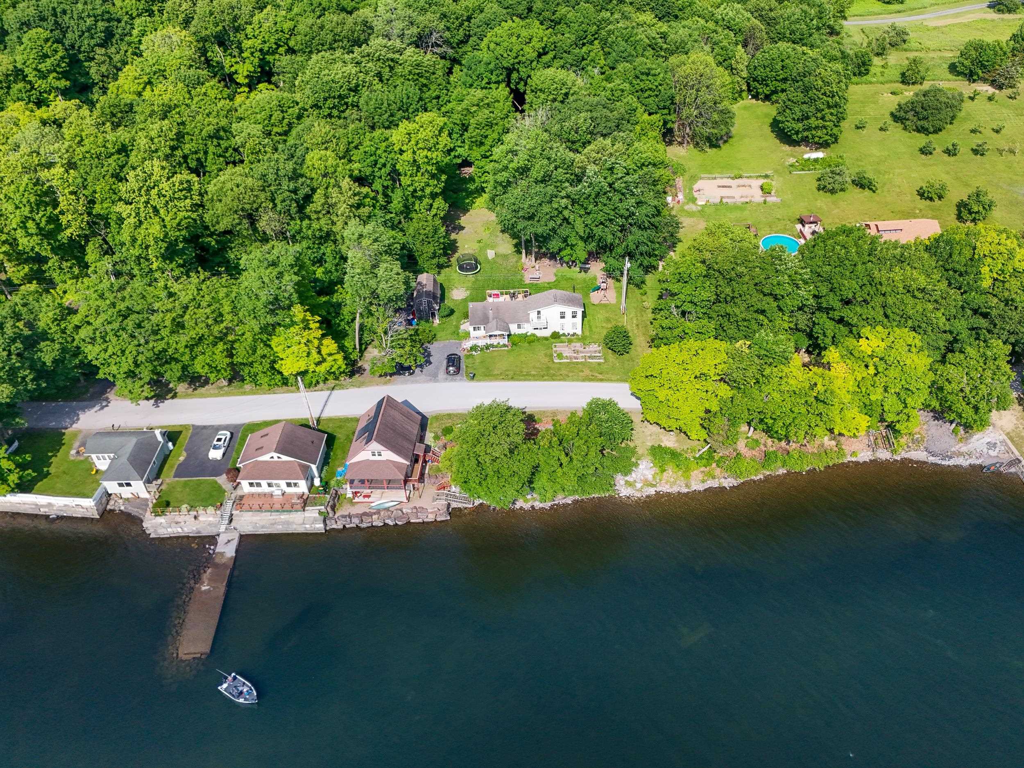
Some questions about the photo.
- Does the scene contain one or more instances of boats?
Yes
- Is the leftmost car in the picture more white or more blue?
white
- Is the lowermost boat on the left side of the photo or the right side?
left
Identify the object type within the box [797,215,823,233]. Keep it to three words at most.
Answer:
gazebo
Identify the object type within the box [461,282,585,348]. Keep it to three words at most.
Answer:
house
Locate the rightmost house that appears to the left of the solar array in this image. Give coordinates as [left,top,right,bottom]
[235,421,327,512]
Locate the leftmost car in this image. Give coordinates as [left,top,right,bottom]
[207,430,230,459]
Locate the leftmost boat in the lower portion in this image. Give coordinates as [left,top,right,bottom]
[218,673,260,704]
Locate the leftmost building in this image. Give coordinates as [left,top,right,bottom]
[84,426,174,497]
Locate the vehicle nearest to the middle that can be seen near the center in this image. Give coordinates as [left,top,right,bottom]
[445,351,461,373]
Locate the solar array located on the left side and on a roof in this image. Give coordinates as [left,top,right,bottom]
[355,398,382,451]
